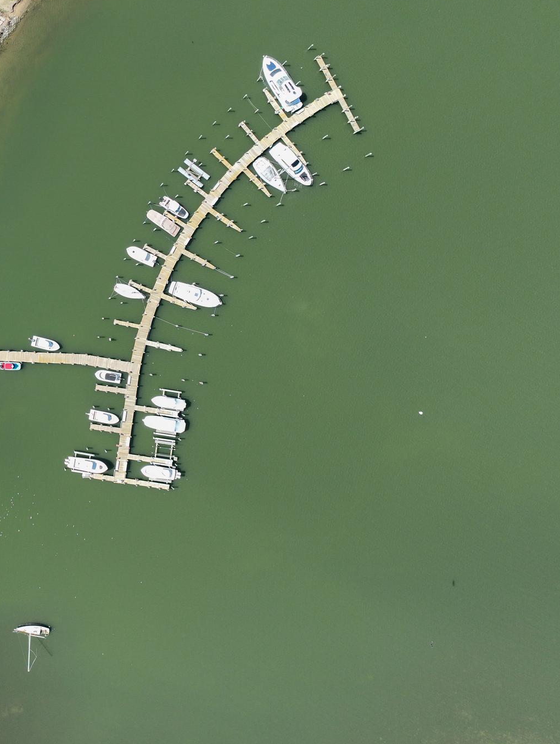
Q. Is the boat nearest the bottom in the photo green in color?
No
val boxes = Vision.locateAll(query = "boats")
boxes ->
[81,409,120,425]
[152,395,189,410]
[260,54,301,119]
[254,157,294,192]
[96,370,127,384]
[156,194,188,217]
[143,415,190,433]
[0,362,21,371]
[15,625,49,669]
[149,212,180,237]
[267,140,314,184]
[168,280,223,308]
[113,283,145,298]
[127,247,161,267]
[142,466,180,481]
[64,456,108,474]
[25,336,59,351]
